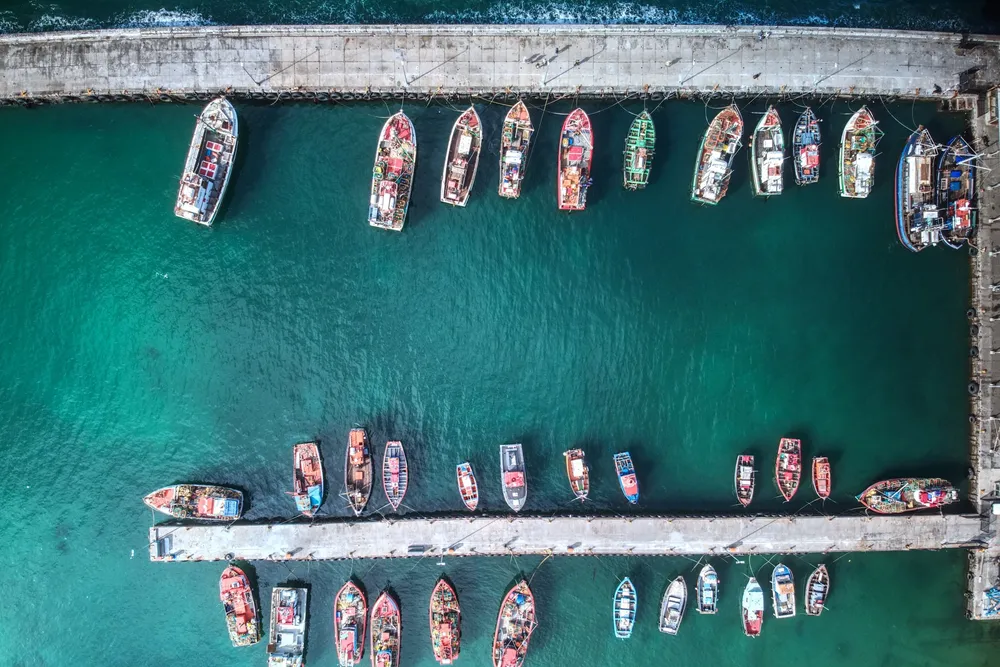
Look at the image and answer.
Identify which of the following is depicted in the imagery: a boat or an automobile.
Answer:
boat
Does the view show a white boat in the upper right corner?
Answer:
Yes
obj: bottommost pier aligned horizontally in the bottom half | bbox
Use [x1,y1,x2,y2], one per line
[149,512,976,563]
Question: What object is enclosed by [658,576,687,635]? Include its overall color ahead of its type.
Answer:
white boat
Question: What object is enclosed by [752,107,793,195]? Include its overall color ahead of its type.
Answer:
white boat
